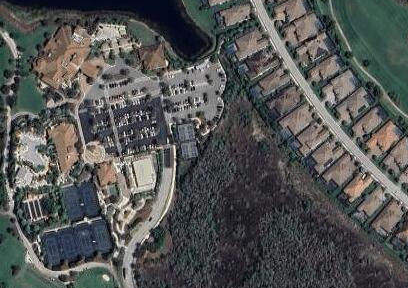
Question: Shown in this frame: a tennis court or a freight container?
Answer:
tennis court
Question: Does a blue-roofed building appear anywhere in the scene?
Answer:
No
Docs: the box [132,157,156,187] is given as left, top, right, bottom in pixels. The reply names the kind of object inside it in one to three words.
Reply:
building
